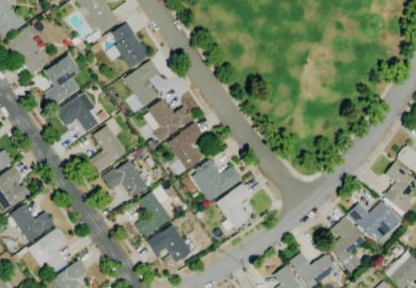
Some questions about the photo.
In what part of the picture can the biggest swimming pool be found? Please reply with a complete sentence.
You can find the biggest swimming pool in the top left area of the picture.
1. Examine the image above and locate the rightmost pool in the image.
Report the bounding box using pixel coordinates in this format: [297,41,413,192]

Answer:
[70,13,90,37]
